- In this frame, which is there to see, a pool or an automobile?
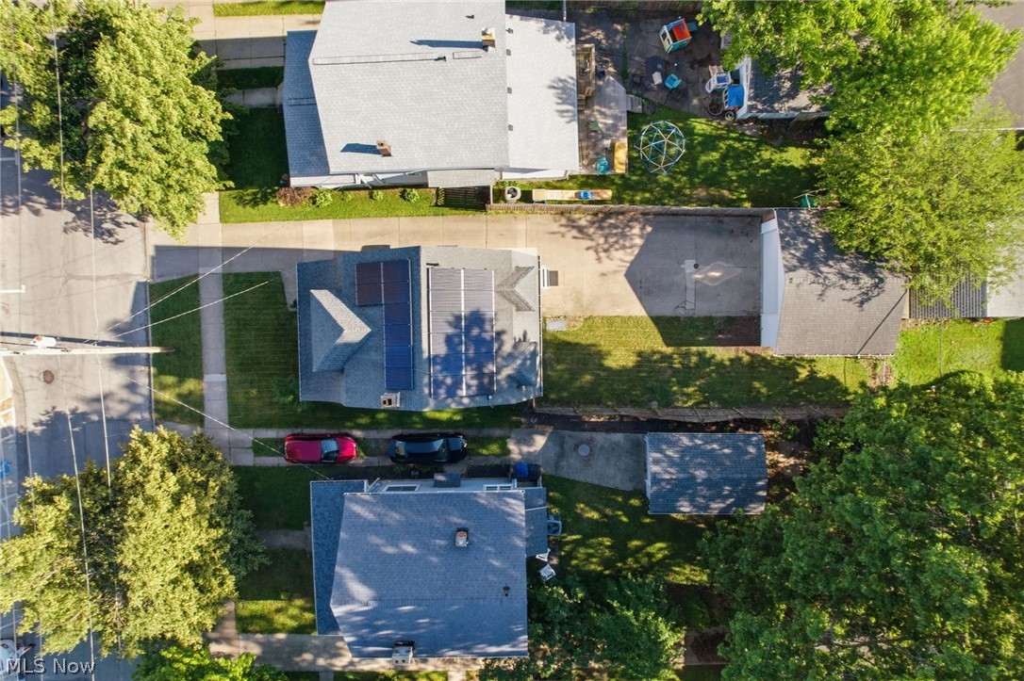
automobile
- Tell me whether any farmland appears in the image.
No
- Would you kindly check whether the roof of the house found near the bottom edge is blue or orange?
blue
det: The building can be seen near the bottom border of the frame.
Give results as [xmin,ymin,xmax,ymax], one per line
[311,469,547,665]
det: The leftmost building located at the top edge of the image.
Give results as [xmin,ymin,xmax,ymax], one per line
[283,2,577,197]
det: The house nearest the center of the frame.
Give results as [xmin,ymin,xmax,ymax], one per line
[295,247,558,410]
